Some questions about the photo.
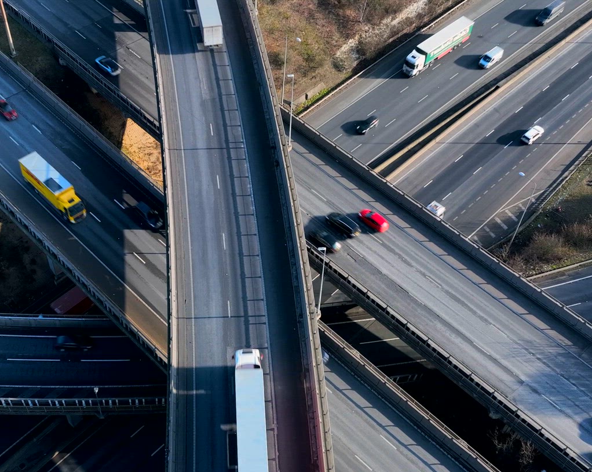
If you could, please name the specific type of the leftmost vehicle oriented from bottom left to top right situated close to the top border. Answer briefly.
truck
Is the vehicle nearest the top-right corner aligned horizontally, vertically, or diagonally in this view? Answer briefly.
diagonally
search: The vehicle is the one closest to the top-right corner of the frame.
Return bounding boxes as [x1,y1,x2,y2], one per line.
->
[539,1,563,23]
